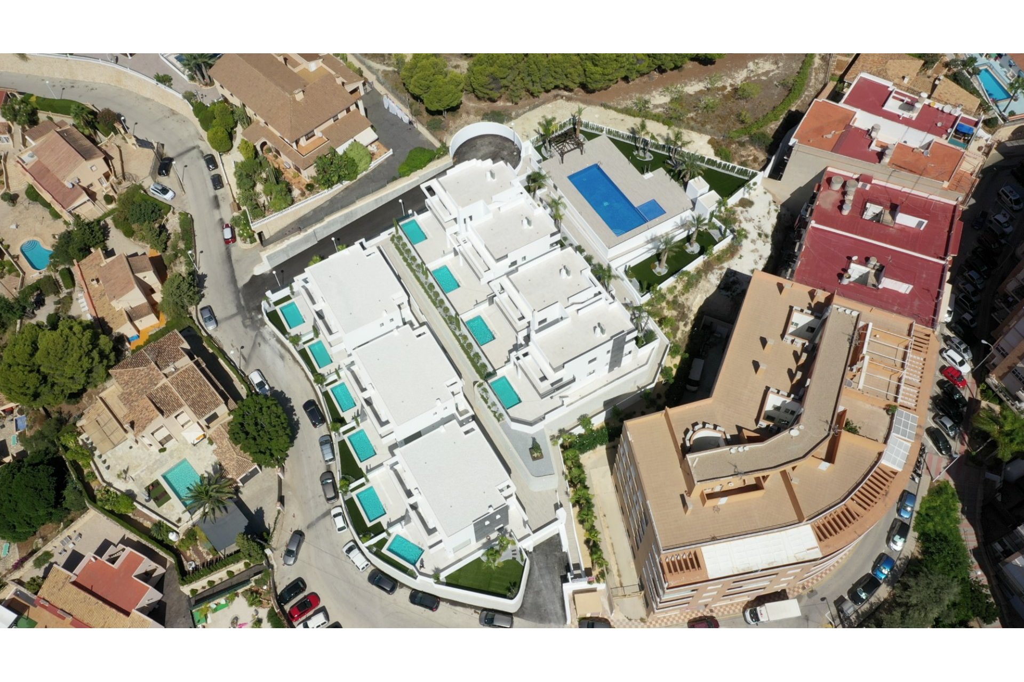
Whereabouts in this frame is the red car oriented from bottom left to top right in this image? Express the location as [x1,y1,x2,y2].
[289,592,322,624]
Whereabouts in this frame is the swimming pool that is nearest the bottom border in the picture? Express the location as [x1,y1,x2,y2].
[384,533,427,567]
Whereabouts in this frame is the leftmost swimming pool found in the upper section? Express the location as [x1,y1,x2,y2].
[18,237,58,272]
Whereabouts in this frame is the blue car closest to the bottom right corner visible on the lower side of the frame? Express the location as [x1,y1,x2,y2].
[872,552,895,580]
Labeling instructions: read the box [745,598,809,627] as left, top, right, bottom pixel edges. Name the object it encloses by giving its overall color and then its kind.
white truck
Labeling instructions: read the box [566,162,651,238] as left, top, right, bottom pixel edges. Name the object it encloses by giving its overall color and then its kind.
blue swimming pool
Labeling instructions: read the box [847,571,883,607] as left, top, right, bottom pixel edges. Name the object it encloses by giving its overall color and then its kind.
black car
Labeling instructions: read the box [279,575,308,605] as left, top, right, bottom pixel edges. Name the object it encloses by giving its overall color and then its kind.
black car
